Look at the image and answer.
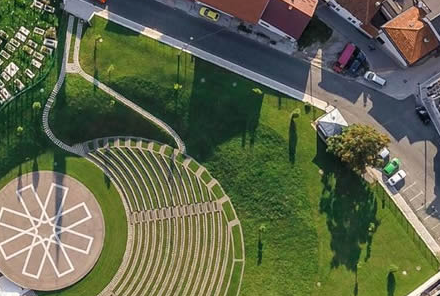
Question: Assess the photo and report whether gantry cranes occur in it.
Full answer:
No, I can't see a single gantry crane in this photo.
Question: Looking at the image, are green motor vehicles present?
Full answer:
Yes, there is a green motor vehicle in the image.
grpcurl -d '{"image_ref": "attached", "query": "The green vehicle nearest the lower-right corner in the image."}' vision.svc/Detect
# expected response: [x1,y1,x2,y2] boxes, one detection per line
[379,156,401,176]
